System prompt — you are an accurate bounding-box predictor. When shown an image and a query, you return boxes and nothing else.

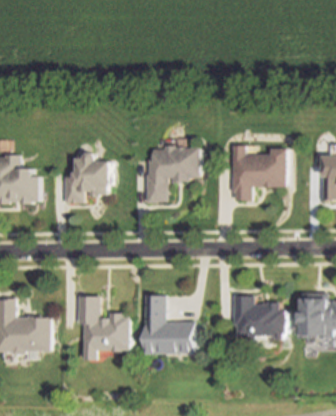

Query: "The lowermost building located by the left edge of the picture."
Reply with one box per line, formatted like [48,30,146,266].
[0,298,54,354]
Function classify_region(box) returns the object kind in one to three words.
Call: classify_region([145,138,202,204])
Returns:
house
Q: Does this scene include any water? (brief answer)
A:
No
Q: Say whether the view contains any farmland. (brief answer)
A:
Yes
